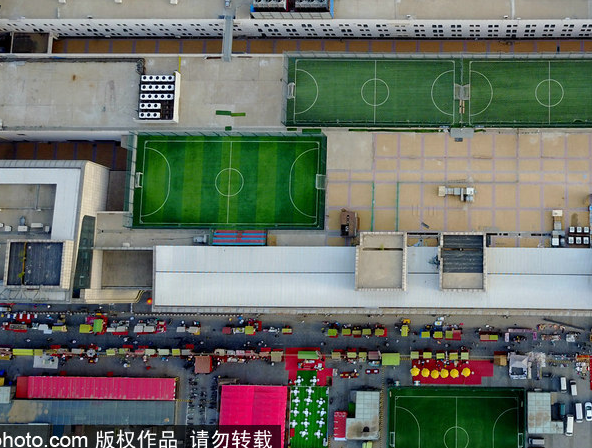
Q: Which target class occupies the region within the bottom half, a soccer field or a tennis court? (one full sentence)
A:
There is a soccer field within the bottom half.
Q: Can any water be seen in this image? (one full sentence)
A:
No, there is no water in the image.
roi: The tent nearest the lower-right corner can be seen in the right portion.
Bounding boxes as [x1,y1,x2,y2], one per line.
[508,352,529,378]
